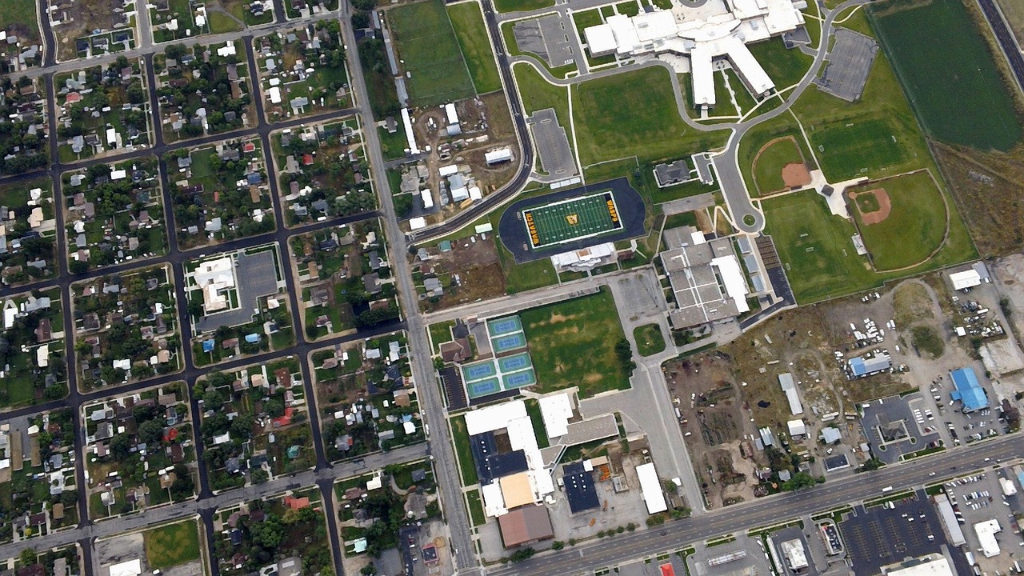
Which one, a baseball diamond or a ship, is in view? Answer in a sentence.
Of the two, only a baseball diamond appears.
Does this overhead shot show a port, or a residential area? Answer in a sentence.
This image shows a residential area.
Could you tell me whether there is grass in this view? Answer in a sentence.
Yes, some grass is visible.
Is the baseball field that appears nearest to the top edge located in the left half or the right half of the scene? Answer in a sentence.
The baseball field that appears nearest to the top edge sits on the right side.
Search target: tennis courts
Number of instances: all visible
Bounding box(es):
[488,315,522,337]
[503,369,537,389]
[492,332,527,352]
[499,352,533,373]
[467,377,501,398]
[463,360,496,381]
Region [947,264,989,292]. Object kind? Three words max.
barn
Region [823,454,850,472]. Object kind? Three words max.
building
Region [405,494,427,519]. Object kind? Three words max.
house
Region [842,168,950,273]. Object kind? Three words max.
baseball field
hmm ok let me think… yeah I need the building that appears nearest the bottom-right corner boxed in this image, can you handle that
[972,519,1001,558]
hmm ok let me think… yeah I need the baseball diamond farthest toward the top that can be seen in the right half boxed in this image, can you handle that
[753,135,812,196]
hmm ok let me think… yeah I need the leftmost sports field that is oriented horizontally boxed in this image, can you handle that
[499,177,645,264]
